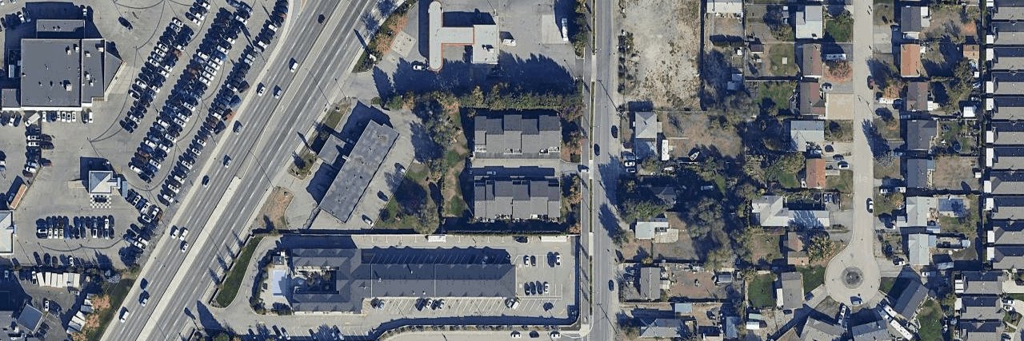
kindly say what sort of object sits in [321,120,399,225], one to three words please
building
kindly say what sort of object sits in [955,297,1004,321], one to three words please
house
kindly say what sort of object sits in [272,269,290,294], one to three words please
swimming pool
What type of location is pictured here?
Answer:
residential area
